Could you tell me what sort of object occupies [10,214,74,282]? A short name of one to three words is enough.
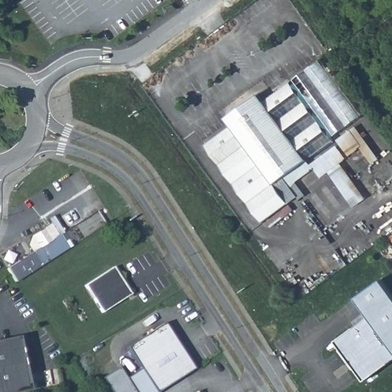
building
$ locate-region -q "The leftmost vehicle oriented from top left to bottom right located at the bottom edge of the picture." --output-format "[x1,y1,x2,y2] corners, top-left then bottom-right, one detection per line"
[120,356,137,372]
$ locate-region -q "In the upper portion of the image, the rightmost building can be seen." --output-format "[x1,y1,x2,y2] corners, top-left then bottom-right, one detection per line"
[350,126,378,165]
